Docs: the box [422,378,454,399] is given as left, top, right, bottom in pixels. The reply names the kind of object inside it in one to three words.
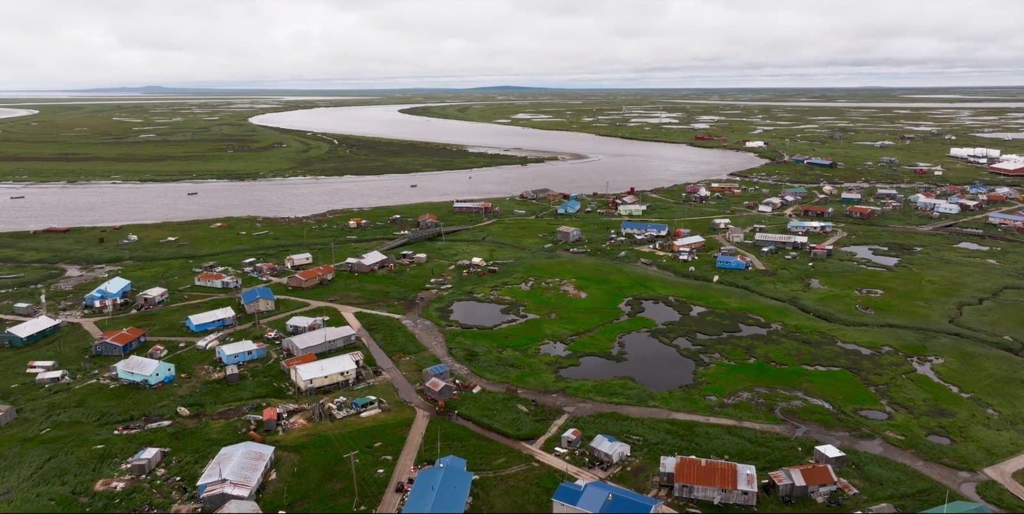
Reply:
shed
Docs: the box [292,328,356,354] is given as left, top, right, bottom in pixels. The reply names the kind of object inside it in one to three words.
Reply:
building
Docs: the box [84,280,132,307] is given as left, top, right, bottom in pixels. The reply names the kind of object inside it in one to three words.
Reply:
house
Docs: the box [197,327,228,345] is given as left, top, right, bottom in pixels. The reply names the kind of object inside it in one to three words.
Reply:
boat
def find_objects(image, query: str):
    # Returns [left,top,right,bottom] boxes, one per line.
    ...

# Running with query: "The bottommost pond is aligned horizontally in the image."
[452,242,997,443]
